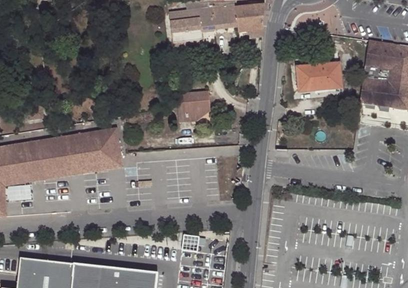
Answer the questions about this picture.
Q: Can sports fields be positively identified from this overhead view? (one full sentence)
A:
No, no sports field is visible in the scene.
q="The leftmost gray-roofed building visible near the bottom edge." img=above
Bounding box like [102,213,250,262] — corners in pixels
[16,258,72,288]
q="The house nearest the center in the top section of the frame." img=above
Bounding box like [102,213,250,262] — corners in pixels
[178,90,211,122]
